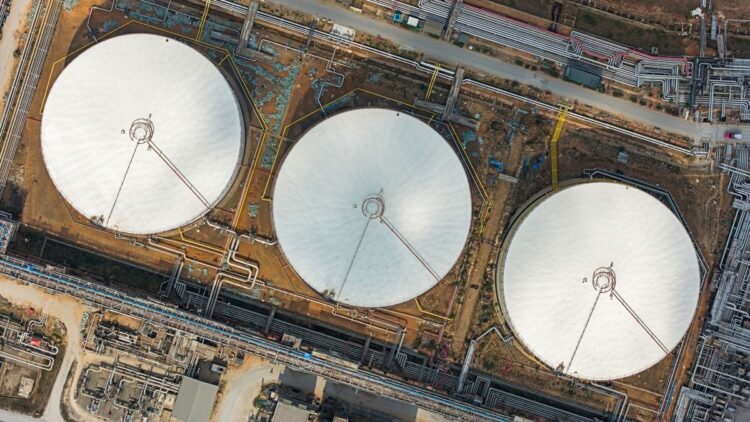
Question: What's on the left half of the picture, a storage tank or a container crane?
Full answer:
It is a storage tank that can be seen on the left half of the picture.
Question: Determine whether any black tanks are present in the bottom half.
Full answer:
No, no black tank is visible in the bottom half.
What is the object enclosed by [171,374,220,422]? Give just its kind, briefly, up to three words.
building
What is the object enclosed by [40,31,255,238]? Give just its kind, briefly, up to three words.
storage tank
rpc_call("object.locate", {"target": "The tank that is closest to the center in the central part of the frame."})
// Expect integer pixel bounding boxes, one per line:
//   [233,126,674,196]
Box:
[271,107,473,313]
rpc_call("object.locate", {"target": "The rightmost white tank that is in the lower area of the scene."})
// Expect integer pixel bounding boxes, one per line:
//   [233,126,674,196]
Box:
[492,181,701,392]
